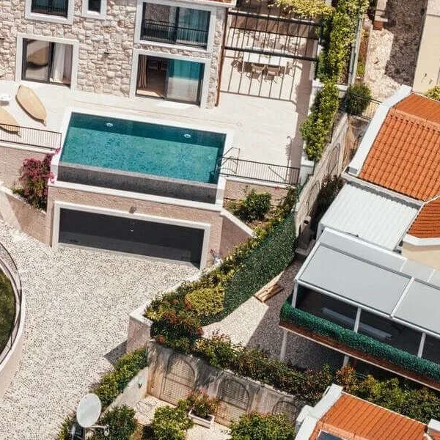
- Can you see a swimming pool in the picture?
Yes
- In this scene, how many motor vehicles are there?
zero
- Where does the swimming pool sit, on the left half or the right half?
left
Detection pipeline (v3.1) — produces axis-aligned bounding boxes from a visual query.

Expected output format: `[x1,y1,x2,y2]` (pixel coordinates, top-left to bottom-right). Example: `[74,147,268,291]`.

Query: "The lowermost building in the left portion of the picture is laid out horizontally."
[48,186,223,264]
